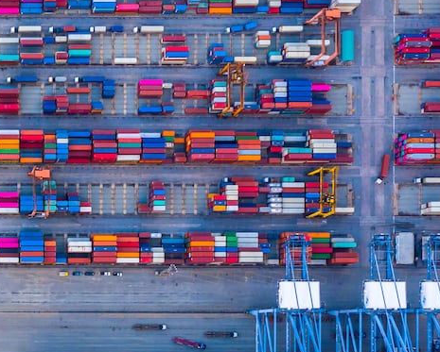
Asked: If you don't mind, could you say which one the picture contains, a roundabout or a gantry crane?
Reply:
gantry crane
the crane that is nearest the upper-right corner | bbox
[303,9,338,69]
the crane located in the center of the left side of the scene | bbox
[26,165,53,217]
